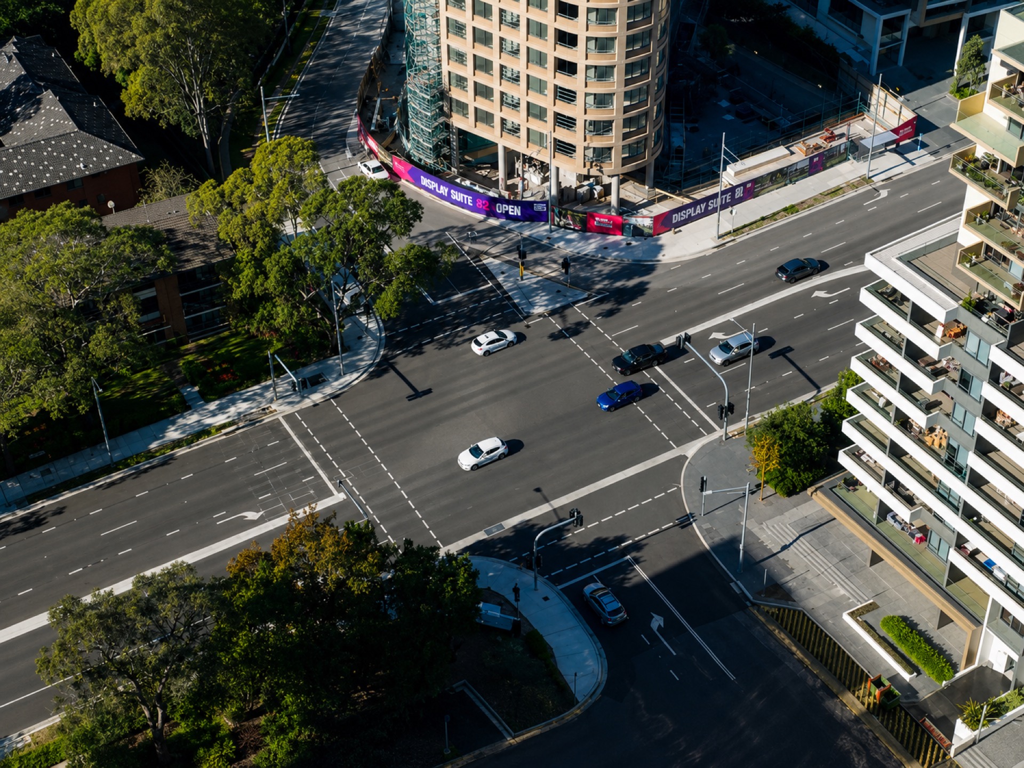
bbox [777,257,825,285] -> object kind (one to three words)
car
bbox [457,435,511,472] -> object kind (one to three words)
car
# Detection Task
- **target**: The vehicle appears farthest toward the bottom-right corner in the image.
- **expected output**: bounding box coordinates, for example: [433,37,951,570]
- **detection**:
[580,581,630,629]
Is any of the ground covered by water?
No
